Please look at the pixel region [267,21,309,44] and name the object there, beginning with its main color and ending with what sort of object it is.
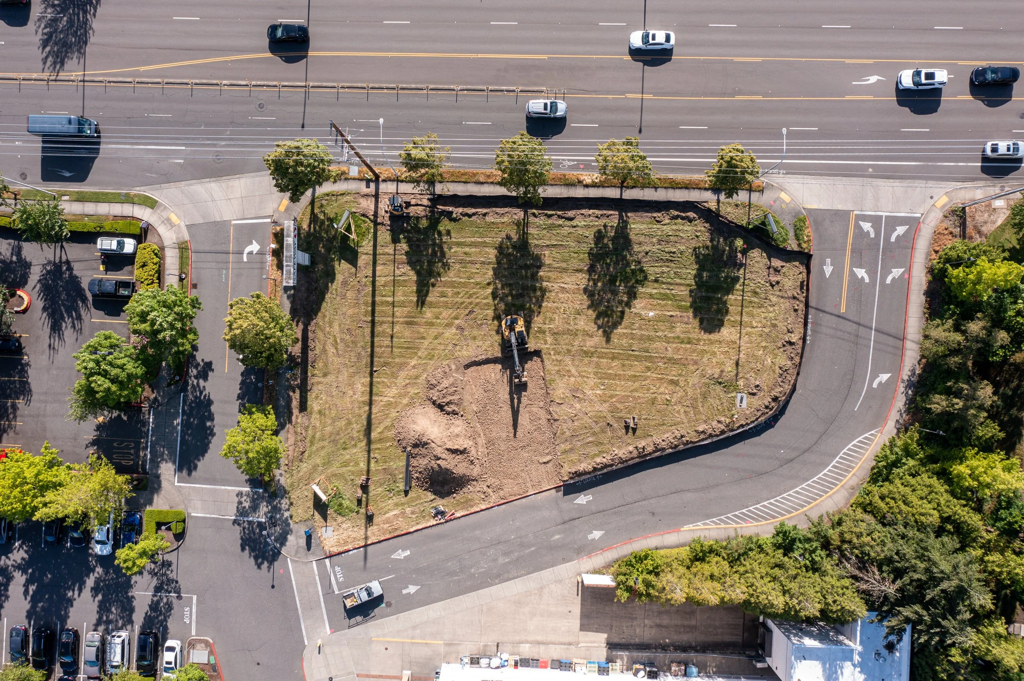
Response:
black car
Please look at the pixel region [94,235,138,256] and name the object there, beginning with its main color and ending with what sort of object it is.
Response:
white car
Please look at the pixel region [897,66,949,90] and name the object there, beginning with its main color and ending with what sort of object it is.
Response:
white car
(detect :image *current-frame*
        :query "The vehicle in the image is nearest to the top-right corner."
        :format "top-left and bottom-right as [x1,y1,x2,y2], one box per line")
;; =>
[972,64,1019,87]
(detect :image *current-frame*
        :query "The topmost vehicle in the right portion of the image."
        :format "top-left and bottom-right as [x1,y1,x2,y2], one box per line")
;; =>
[629,28,675,50]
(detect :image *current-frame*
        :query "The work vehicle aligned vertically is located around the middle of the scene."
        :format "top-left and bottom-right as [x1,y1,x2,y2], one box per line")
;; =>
[501,313,527,380]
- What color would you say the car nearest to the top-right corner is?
black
